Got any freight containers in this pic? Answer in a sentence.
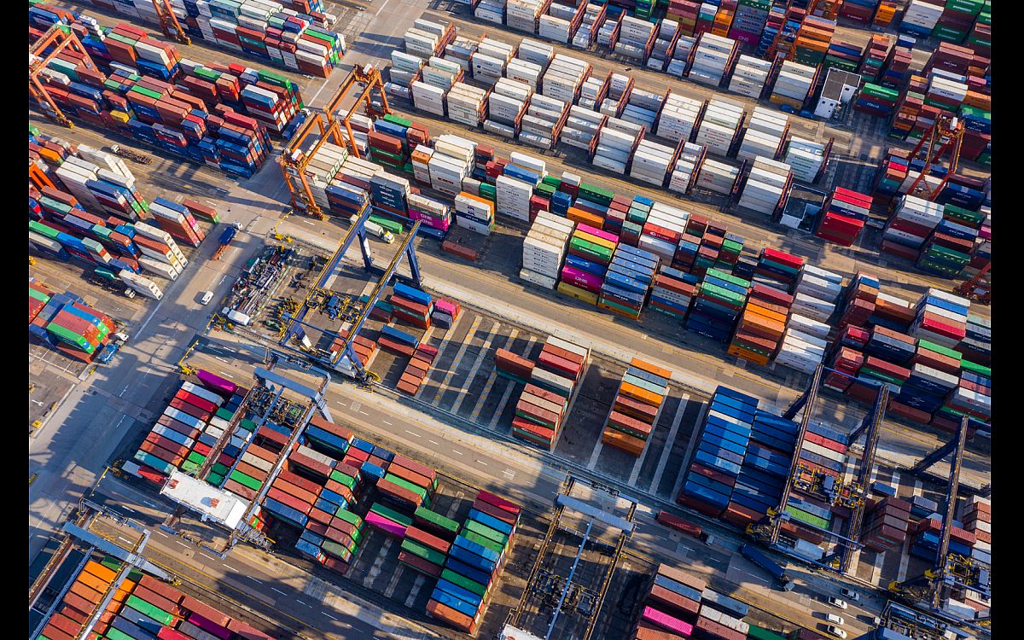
Yes, this view includes a freight container.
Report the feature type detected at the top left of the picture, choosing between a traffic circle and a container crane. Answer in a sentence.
The one visible at the top left of the picture is a container crane.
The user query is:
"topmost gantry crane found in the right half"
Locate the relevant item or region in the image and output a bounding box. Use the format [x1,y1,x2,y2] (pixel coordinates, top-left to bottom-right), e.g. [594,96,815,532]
[762,0,822,60]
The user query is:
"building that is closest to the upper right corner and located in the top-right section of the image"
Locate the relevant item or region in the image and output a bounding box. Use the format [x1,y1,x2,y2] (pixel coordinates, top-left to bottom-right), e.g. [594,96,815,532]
[813,67,862,119]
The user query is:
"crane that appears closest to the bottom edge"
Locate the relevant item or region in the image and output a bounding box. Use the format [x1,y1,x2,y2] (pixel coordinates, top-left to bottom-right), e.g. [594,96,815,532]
[838,600,982,640]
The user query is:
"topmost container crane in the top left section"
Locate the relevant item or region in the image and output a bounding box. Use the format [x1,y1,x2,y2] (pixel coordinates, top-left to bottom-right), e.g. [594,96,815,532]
[147,0,193,45]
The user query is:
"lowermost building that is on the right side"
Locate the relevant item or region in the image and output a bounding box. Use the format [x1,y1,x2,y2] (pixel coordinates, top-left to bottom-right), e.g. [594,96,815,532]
[780,181,827,229]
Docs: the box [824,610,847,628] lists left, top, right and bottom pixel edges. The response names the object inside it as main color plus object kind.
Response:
white vehicle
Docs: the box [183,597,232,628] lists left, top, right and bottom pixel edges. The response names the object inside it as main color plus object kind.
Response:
red shipping container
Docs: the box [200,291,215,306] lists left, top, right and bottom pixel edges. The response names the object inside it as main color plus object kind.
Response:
white vehicle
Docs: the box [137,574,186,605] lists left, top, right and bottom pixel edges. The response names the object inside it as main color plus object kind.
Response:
red shipping container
